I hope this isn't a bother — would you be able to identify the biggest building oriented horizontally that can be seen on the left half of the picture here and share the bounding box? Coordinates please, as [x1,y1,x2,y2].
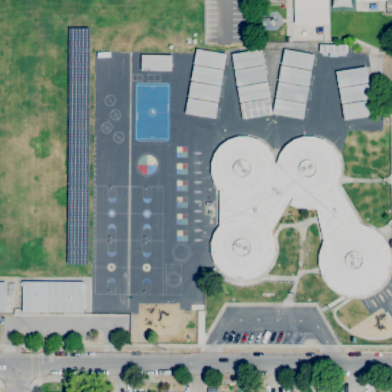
[21,282,84,313]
